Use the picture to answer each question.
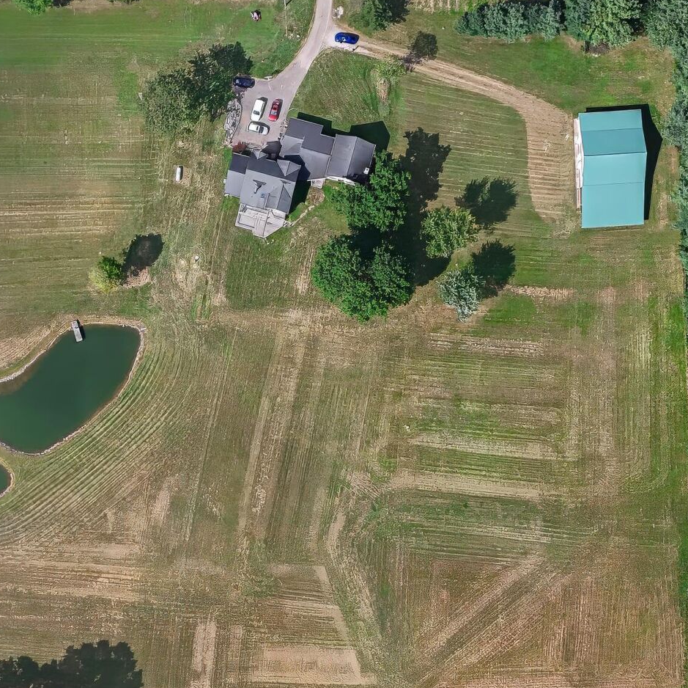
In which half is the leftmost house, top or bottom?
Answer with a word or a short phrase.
top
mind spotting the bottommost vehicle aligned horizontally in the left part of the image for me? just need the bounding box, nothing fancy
[247,122,269,135]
